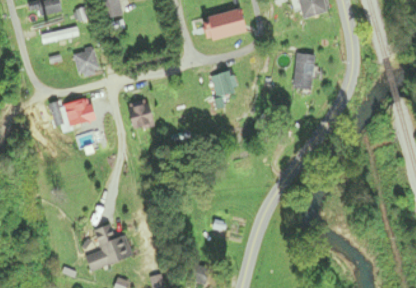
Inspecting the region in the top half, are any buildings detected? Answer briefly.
Yes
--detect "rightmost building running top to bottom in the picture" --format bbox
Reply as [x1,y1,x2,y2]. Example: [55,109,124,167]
[295,53,314,94]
